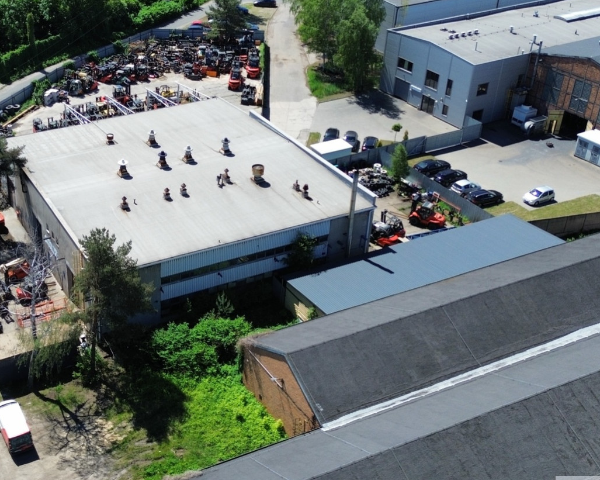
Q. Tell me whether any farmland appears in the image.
No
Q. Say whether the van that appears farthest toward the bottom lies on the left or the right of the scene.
left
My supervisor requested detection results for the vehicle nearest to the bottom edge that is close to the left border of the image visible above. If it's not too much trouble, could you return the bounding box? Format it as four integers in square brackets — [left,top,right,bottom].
[0,397,36,450]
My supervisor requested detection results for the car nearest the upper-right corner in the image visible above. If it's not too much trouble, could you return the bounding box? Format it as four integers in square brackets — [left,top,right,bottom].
[522,185,559,204]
